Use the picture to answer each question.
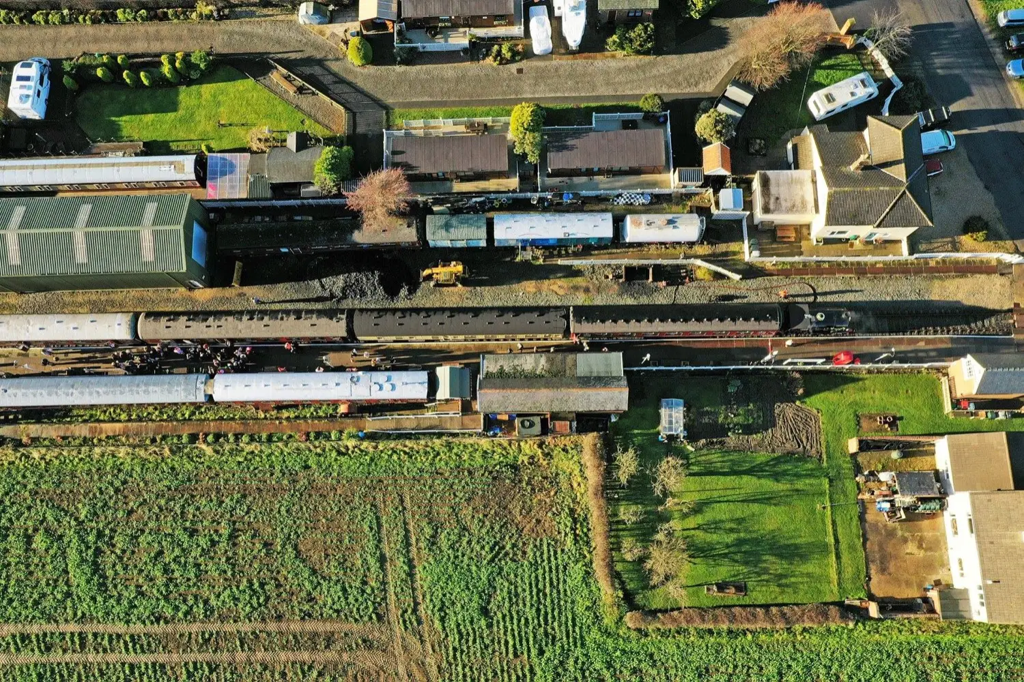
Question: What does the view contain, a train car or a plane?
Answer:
train car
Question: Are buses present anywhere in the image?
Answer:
Yes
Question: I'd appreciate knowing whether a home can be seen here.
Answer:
Yes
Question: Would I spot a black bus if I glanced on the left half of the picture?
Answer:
Yes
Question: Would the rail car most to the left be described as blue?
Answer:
No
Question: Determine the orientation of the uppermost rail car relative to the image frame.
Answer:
horizontally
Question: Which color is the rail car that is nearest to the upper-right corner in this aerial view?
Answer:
black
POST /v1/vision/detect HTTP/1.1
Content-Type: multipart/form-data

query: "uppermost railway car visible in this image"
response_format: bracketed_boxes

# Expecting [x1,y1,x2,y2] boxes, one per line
[618,214,709,245]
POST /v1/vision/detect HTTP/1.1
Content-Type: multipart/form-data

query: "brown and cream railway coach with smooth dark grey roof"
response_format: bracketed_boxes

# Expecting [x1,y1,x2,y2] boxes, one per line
[350,306,570,343]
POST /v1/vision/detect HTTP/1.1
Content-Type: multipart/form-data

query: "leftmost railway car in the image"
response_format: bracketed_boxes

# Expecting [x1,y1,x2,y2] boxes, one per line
[0,312,146,348]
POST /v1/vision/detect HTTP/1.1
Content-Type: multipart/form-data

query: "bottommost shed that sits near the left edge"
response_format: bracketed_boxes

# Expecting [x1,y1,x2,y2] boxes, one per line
[0,193,213,293]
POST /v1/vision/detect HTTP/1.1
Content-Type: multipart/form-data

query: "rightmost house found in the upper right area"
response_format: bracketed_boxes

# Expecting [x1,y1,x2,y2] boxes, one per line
[751,114,934,241]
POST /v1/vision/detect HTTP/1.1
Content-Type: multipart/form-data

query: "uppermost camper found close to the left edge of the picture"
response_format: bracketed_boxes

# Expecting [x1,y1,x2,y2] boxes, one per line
[9,59,53,118]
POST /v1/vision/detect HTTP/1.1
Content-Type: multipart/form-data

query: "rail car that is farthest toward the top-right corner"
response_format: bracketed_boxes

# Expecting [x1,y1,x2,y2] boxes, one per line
[780,302,865,334]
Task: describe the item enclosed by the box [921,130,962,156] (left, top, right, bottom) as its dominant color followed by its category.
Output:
blue vehicle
